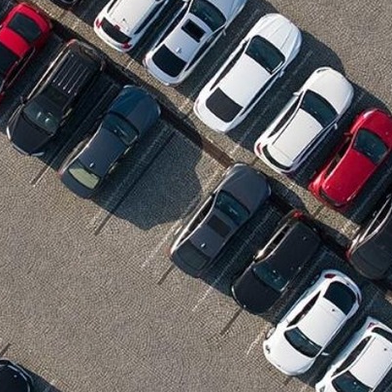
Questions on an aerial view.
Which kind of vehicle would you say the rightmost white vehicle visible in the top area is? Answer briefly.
automobile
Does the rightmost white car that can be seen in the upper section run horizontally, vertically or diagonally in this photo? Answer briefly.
diagonally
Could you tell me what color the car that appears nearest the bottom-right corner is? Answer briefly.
white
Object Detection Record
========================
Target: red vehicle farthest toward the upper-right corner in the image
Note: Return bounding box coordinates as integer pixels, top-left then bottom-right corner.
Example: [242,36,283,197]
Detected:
[308,107,392,214]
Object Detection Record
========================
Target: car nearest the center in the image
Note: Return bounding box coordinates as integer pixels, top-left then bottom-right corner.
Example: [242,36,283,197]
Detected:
[170,165,270,278]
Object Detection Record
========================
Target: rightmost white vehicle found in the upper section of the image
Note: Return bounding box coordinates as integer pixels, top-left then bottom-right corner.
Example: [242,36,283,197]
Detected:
[253,68,356,178]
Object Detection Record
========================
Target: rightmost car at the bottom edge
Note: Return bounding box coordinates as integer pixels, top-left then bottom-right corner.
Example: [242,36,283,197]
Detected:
[316,317,392,392]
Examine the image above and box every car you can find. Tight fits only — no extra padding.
[253,68,356,178]
[146,0,246,87]
[308,107,392,214]
[0,359,34,392]
[316,317,392,392]
[0,2,52,100]
[60,88,160,199]
[264,270,364,373]
[230,210,327,311]
[7,40,108,155]
[93,0,175,55]
[346,187,392,281]
[170,165,270,278]
[195,15,302,132]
